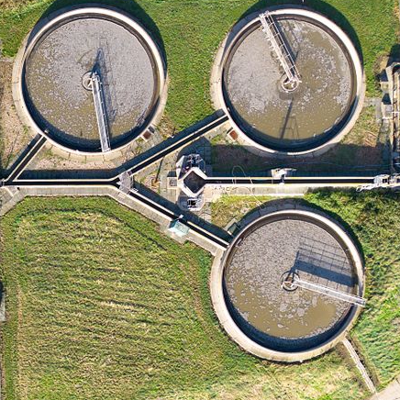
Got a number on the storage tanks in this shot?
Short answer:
three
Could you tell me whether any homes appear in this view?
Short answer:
No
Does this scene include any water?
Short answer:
Yes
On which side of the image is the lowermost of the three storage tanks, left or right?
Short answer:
right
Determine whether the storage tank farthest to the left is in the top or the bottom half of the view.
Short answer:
top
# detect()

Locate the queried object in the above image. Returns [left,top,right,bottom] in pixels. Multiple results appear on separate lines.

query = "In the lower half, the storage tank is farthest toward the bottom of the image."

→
[210,208,366,363]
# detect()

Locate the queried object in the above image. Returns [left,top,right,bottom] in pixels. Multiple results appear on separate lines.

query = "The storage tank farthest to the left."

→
[13,8,167,162]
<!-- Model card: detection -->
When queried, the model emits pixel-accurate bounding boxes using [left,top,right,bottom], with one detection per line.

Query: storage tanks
[210,10,366,165]
[13,8,167,162]
[210,208,366,363]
